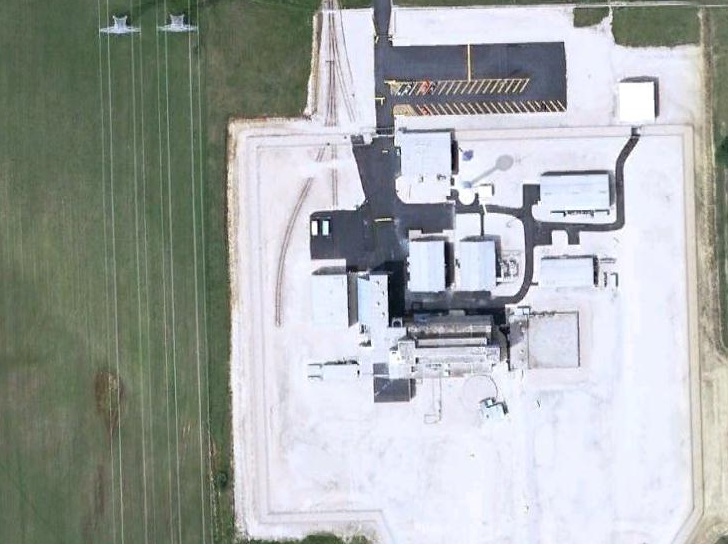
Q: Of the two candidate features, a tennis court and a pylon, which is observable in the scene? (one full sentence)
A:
Visible in the photo is a pylon.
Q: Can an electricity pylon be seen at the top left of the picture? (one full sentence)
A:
Yes, at the top left of the picture there is an electricity pylon.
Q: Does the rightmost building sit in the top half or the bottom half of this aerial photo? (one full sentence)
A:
It is in the top half that the rightmost building appears.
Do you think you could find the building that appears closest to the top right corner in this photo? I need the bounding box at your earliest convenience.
[619,80,655,122]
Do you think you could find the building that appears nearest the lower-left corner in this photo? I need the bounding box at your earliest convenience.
[322,360,359,379]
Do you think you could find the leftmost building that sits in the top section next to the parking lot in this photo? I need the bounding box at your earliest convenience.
[400,132,452,197]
